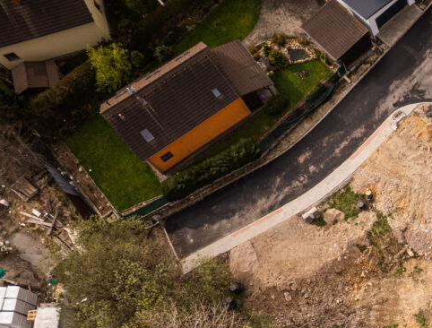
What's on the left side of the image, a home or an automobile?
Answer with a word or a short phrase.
home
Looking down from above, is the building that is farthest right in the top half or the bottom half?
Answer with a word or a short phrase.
top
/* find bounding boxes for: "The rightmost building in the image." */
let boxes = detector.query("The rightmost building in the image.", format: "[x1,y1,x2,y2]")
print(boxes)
[350,0,419,35]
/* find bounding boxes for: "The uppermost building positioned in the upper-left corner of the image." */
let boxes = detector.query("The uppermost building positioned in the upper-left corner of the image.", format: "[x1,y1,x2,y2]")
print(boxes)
[0,0,117,68]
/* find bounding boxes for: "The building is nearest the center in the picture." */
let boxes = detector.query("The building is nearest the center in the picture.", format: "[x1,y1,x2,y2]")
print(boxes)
[101,30,275,181]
